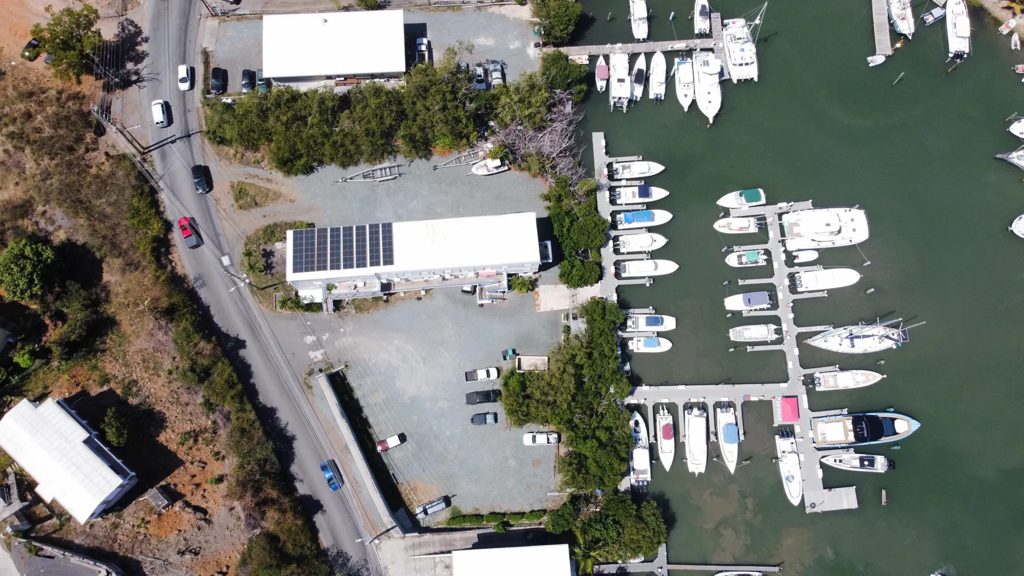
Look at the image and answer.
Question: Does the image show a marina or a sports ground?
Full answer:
The picture captures a marina.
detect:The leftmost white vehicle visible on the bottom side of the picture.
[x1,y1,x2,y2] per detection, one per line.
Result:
[375,432,406,454]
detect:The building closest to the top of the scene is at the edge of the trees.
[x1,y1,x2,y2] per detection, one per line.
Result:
[263,9,406,89]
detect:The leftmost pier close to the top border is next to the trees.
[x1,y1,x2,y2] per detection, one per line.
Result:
[545,13,728,81]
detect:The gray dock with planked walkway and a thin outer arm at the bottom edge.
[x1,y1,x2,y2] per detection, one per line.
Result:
[593,547,779,576]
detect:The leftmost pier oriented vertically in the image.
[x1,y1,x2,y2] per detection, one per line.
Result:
[592,132,657,484]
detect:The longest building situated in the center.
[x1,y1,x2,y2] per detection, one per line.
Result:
[287,212,540,312]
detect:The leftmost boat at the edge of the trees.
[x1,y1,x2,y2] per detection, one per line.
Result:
[472,161,519,177]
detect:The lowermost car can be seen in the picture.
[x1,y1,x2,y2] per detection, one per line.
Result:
[416,496,450,518]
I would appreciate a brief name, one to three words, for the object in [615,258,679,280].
boat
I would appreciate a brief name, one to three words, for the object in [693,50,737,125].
boat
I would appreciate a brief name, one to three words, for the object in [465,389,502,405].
vehicle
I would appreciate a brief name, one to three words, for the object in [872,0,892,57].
pier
